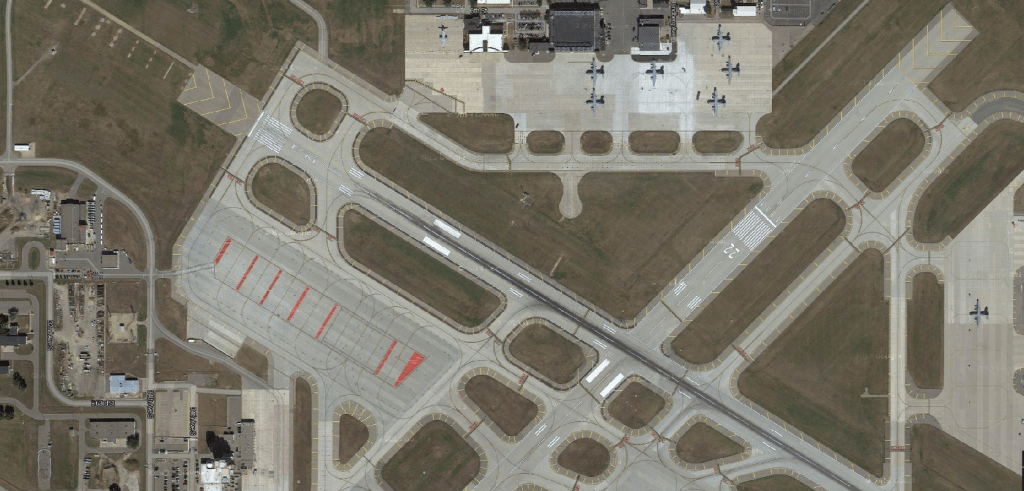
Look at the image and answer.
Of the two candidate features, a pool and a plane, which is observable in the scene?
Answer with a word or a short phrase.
plane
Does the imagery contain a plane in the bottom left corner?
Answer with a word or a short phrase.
No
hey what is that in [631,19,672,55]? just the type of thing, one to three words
building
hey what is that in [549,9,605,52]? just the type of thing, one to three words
hangar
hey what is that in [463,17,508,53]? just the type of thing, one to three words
hangar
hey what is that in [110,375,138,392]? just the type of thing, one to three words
building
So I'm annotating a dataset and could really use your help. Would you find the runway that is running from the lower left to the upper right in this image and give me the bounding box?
[471,65,917,491]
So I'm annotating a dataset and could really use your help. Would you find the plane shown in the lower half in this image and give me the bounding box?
[971,299,990,326]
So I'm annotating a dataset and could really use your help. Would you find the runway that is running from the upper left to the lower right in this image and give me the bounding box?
[247,110,885,491]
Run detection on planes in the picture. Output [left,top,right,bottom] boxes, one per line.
[586,88,605,115]
[708,87,727,114]
[971,299,990,326]
[713,25,732,52]
[646,58,666,85]
[586,58,605,85]
[721,56,741,83]
[438,25,449,47]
